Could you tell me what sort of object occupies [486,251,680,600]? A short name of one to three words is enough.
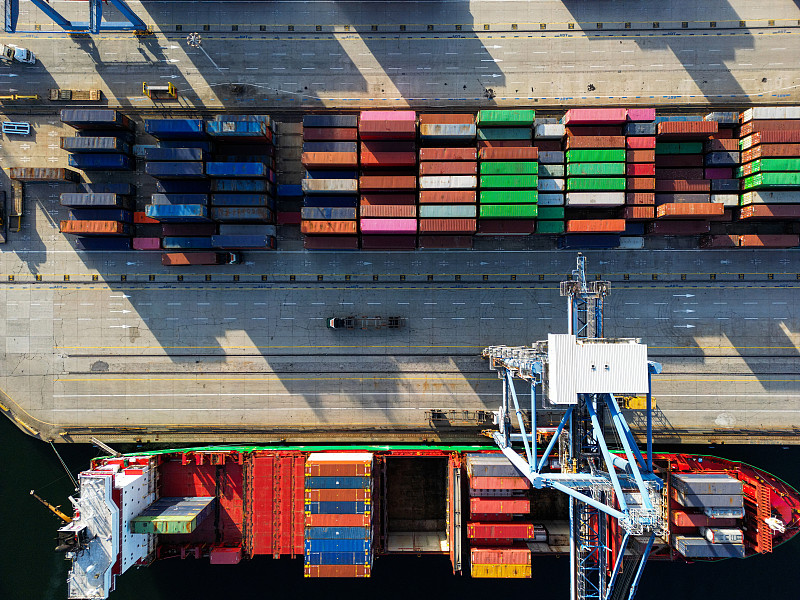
crane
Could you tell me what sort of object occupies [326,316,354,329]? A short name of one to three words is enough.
vehicle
